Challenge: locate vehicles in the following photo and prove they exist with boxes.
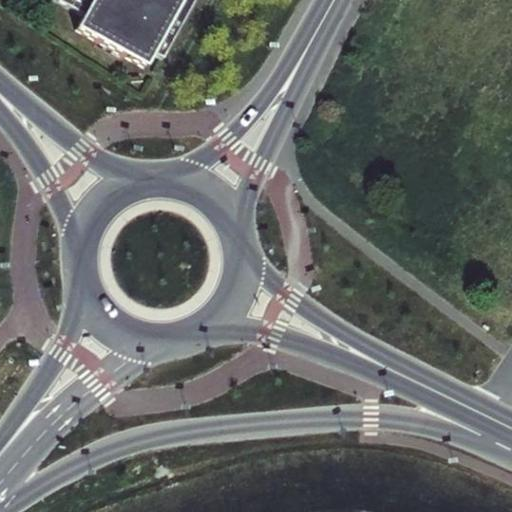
[100,295,120,318]
[241,106,258,128]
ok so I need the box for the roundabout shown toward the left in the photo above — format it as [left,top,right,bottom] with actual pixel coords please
[40,132,288,388]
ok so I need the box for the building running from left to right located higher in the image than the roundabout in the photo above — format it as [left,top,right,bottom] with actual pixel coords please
[54,0,204,72]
